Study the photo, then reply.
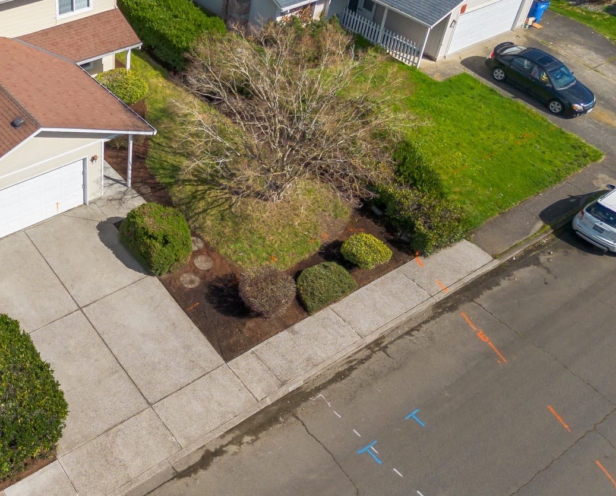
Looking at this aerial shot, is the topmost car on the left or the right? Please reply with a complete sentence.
You can find the topmost car on the right side of the picture.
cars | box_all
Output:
[491,46,600,116]
[570,186,616,262]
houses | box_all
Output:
[0,0,159,239]
[197,0,535,74]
